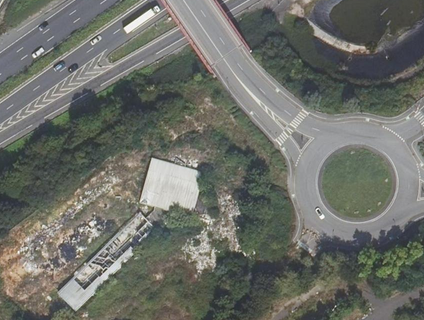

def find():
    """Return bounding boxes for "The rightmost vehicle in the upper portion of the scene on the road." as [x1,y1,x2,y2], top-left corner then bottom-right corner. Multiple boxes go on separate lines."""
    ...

[123,4,162,35]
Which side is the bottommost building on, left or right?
left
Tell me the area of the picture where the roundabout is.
right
